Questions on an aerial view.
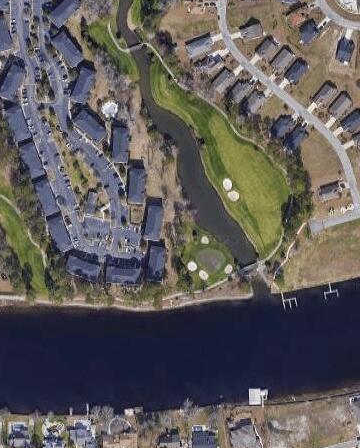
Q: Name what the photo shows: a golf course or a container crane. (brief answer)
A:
golf course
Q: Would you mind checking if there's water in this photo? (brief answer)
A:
Yes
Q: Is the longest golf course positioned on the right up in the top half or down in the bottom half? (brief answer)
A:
top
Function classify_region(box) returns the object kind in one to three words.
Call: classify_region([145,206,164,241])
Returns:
building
